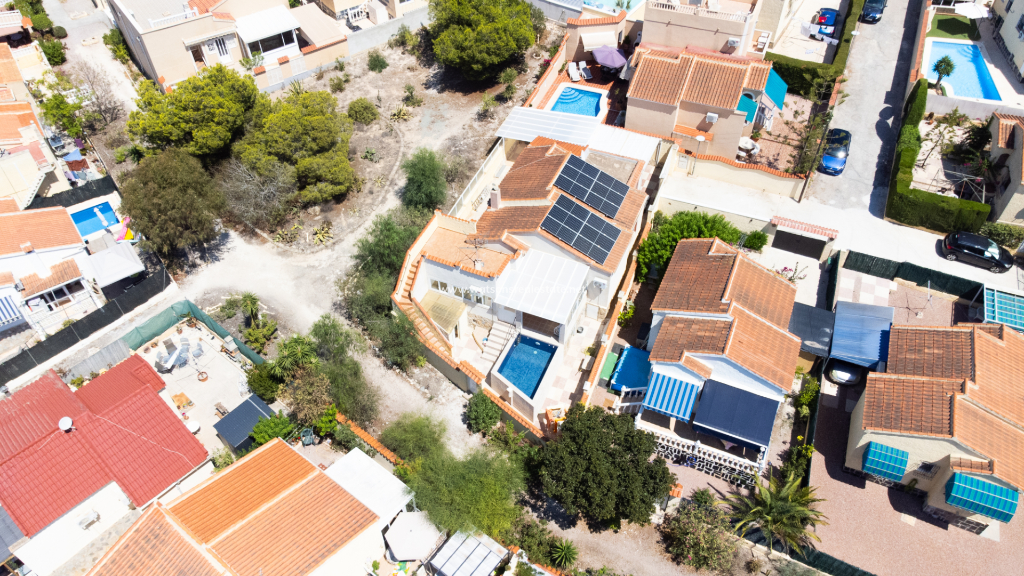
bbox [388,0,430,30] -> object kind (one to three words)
house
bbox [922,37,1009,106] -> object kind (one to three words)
swimming pool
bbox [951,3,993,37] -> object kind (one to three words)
umbrella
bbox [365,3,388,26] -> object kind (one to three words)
shed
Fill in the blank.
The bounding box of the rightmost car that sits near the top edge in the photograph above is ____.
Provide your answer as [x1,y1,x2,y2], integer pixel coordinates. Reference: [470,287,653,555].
[865,0,888,20]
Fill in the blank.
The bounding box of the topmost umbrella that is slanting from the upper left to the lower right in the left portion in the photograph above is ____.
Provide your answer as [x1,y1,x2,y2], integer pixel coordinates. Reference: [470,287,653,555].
[94,206,118,238]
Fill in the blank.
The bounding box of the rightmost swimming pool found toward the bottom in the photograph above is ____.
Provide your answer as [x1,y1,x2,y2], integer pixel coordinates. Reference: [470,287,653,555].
[608,345,653,400]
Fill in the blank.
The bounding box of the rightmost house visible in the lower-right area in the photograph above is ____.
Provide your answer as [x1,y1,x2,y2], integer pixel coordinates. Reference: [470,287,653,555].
[847,319,1024,536]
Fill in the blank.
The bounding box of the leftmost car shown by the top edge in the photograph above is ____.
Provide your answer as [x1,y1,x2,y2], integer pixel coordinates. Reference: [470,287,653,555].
[813,13,841,40]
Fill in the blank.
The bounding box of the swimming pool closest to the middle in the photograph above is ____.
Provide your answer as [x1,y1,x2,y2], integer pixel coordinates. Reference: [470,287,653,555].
[491,330,562,422]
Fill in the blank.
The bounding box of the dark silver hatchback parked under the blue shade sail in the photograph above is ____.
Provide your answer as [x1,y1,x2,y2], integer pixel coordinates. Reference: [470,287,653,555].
[827,358,868,396]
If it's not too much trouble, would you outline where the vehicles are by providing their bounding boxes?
[865,0,888,20]
[813,13,841,40]
[818,127,852,172]
[945,230,1023,276]
[827,358,868,396]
